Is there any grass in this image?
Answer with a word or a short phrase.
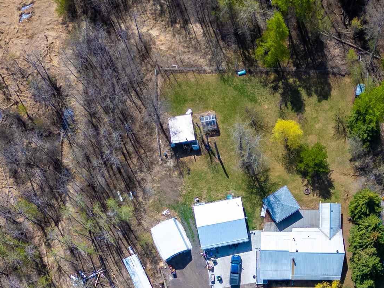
Yes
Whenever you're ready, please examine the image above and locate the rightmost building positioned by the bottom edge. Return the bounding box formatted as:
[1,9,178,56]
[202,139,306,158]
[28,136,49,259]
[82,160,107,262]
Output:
[256,203,344,288]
